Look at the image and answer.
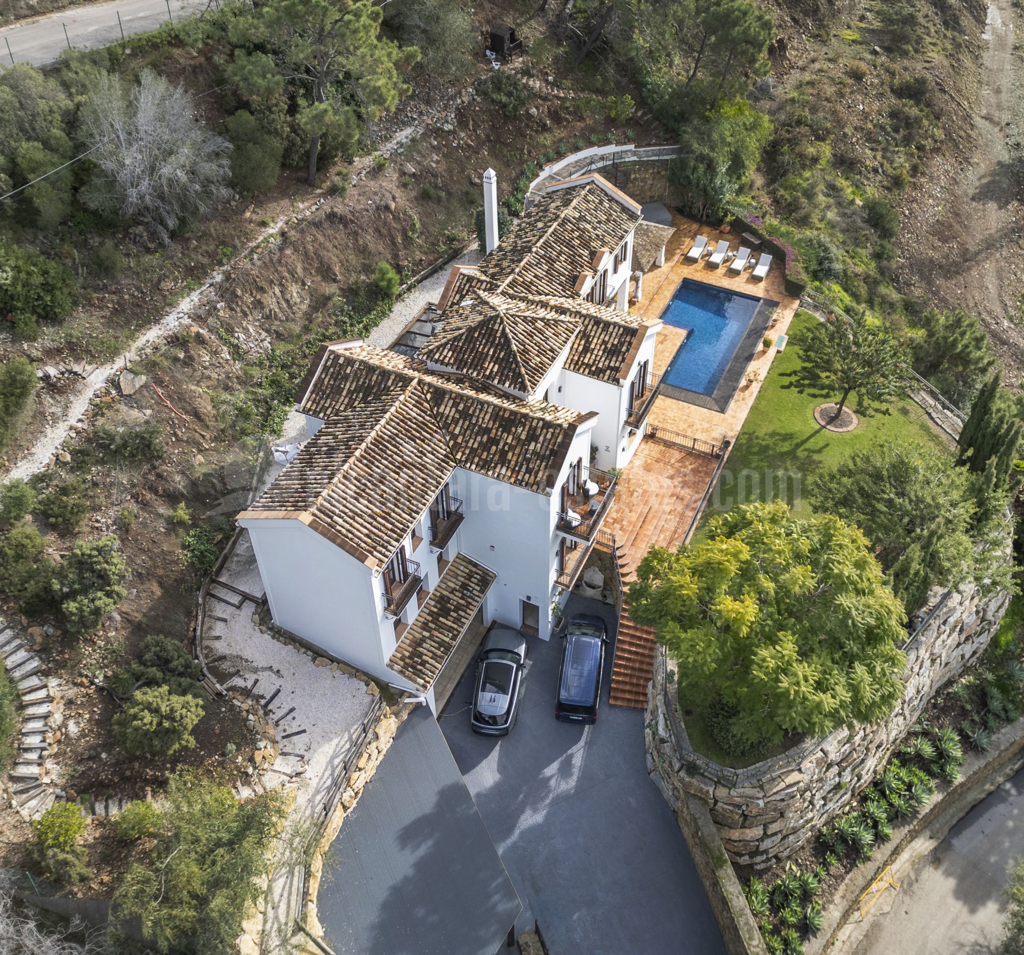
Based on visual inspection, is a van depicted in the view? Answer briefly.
Yes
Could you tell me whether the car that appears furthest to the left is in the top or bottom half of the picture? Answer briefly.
bottom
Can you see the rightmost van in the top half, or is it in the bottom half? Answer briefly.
bottom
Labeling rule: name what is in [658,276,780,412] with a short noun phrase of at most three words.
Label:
swimming pool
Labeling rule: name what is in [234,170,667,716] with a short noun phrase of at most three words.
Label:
house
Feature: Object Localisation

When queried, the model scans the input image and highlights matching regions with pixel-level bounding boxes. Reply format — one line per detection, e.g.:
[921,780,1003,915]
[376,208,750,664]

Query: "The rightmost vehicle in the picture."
[553,618,612,728]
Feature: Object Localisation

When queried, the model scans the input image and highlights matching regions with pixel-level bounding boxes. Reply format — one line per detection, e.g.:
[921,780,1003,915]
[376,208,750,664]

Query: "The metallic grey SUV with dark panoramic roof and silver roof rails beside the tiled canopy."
[469,631,529,738]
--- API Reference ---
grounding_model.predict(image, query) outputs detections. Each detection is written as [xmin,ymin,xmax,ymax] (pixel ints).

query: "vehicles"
[553,618,612,728]
[469,631,529,738]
